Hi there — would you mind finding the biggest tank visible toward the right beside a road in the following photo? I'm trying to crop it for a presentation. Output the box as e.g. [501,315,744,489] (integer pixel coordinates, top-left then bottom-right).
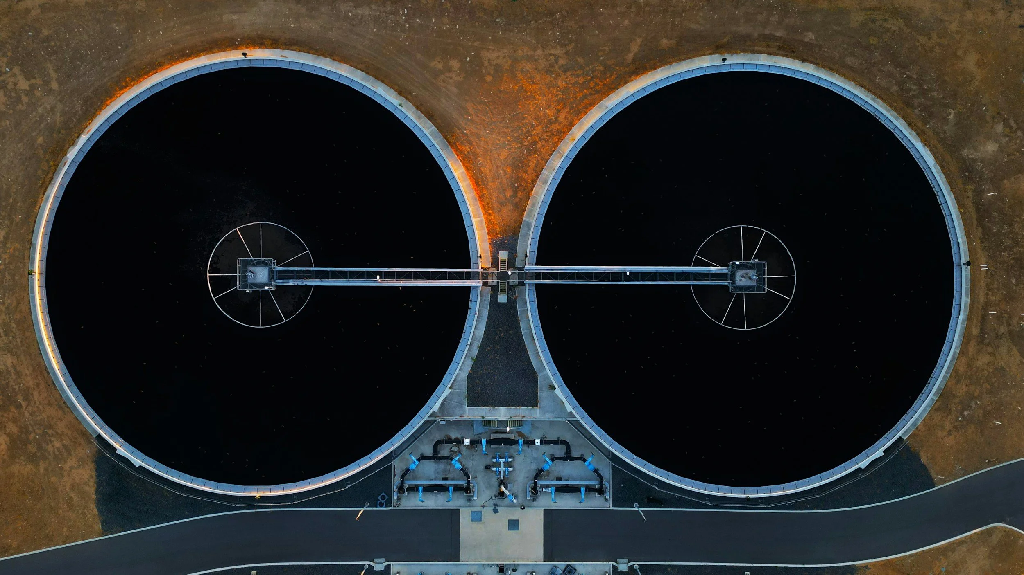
[526,61,966,498]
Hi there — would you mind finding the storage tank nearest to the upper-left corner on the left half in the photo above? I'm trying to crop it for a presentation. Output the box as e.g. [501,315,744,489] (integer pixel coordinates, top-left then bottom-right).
[34,56,481,496]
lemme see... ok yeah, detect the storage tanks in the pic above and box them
[34,56,481,496]
[526,61,966,498]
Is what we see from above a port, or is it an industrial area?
industrial area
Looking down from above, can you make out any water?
Yes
